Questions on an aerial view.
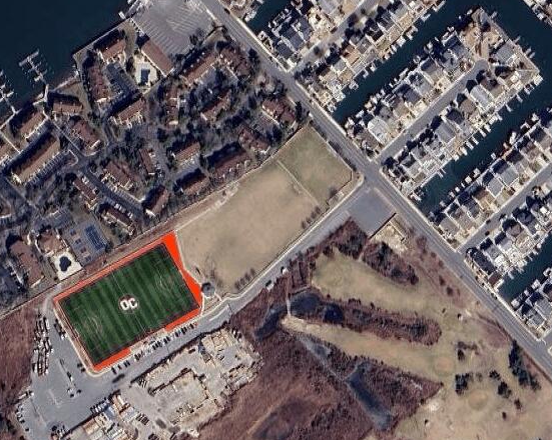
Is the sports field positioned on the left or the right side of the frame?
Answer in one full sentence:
It is on the left.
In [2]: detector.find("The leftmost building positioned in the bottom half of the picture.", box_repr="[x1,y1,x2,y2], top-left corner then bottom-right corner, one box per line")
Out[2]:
[8,242,48,289]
